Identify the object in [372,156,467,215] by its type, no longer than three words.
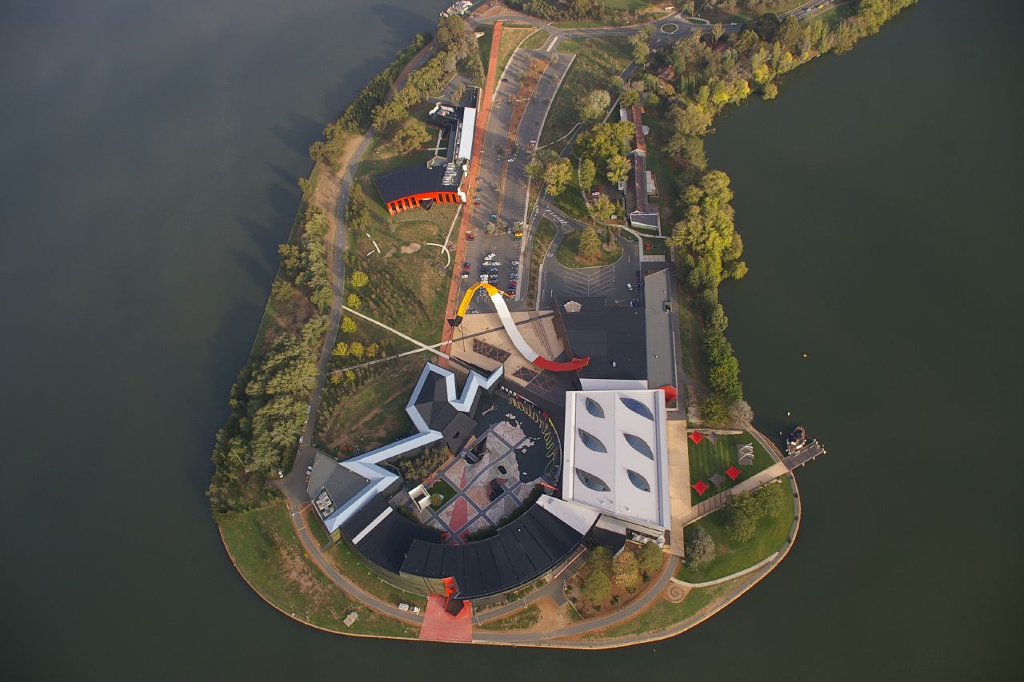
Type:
building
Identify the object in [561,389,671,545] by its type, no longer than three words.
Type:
building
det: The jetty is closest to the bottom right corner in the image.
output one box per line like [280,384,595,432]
[782,440,827,470]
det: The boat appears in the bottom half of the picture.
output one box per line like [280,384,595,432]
[788,428,804,452]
